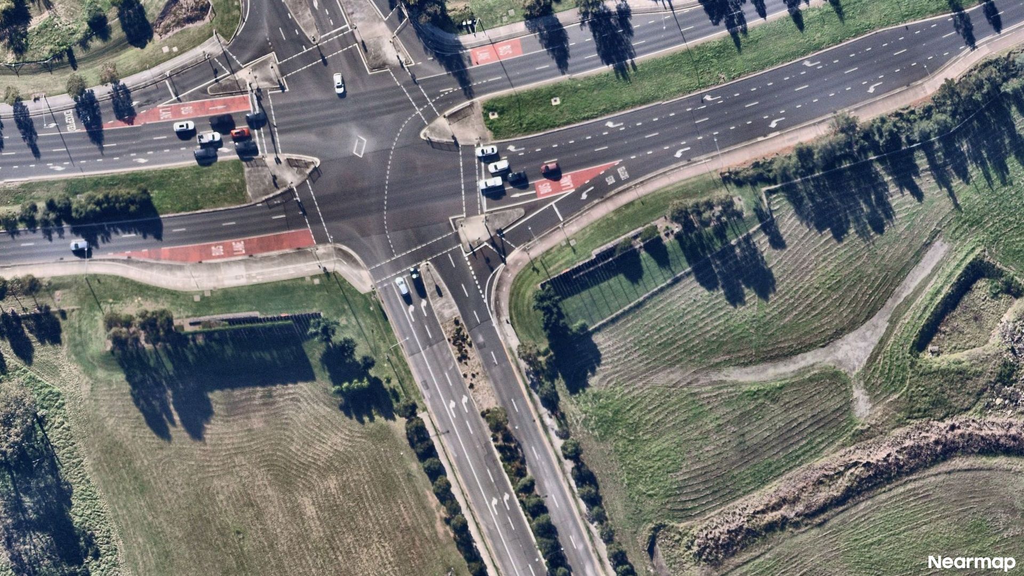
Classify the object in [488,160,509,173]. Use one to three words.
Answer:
vehicle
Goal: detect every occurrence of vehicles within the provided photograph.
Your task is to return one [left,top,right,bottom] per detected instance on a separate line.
[245,113,267,123]
[475,146,497,157]
[70,241,89,250]
[193,149,217,159]
[210,116,232,126]
[540,164,560,174]
[230,128,250,138]
[488,160,509,173]
[479,178,502,190]
[506,171,527,182]
[333,73,344,95]
[197,133,220,143]
[397,277,410,297]
[409,265,423,287]
[235,142,257,152]
[173,122,194,132]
